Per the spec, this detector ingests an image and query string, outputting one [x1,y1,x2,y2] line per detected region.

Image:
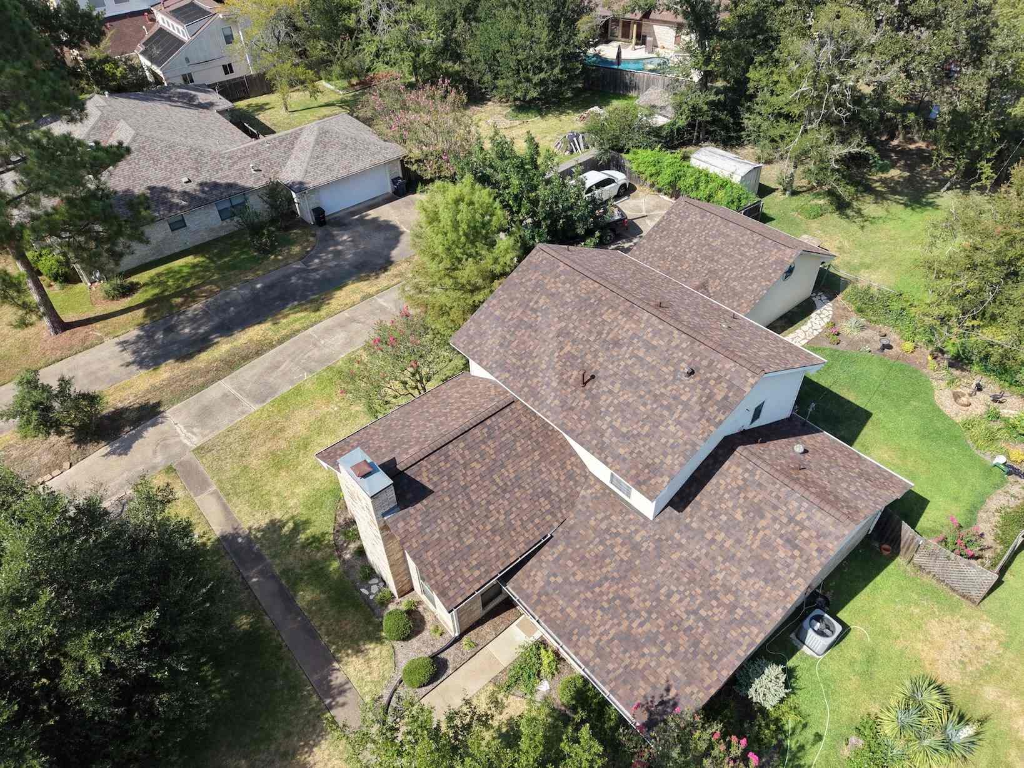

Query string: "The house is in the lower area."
[314,242,914,748]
